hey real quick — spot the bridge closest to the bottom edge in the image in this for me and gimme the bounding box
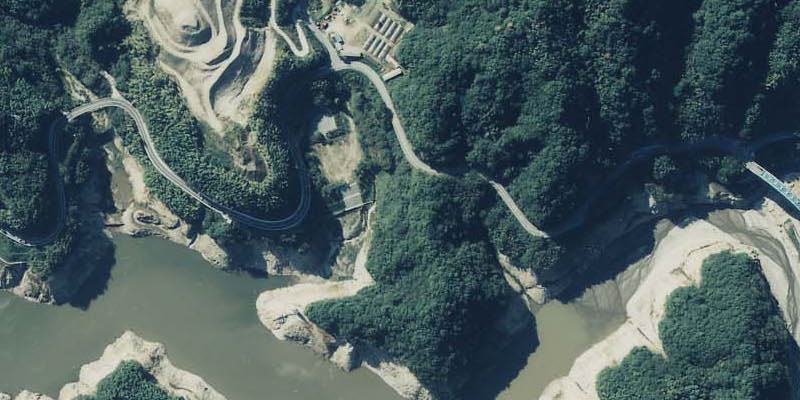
[747,162,800,214]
